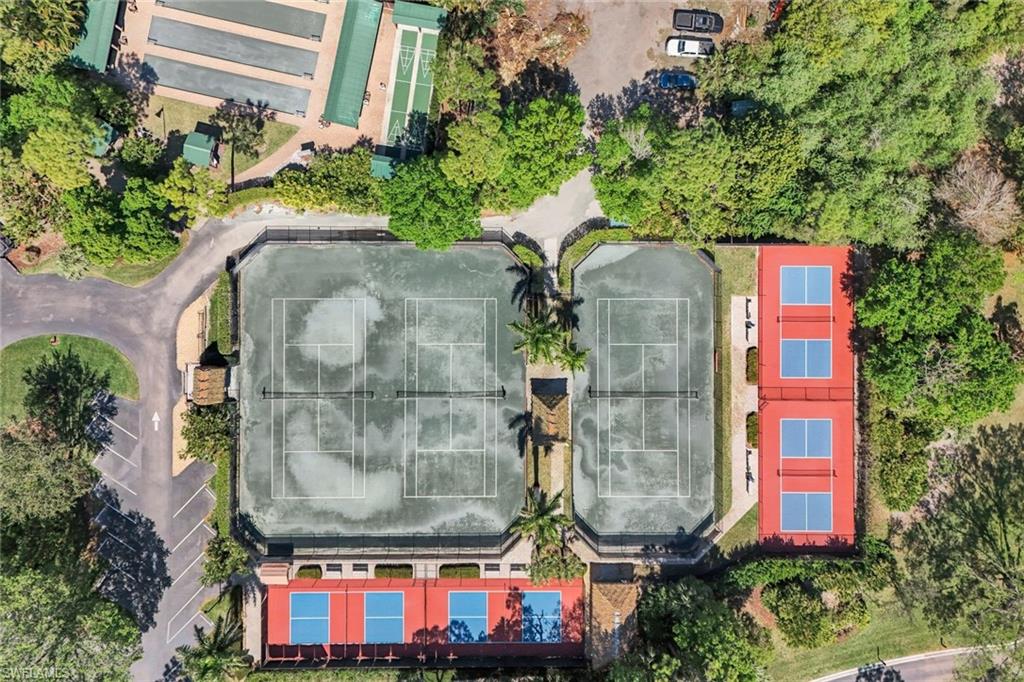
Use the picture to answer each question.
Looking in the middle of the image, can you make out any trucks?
No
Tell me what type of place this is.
sports ground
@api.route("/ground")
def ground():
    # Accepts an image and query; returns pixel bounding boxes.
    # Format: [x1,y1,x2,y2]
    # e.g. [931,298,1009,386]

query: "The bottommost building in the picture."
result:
[589,575,639,665]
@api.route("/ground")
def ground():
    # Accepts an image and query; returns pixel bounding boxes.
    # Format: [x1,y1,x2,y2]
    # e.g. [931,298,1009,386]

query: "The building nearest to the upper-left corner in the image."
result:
[70,0,135,81]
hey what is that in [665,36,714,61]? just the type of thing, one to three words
truck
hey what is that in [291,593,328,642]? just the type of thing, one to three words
sports court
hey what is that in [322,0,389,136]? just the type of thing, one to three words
building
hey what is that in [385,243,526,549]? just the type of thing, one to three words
tennis court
